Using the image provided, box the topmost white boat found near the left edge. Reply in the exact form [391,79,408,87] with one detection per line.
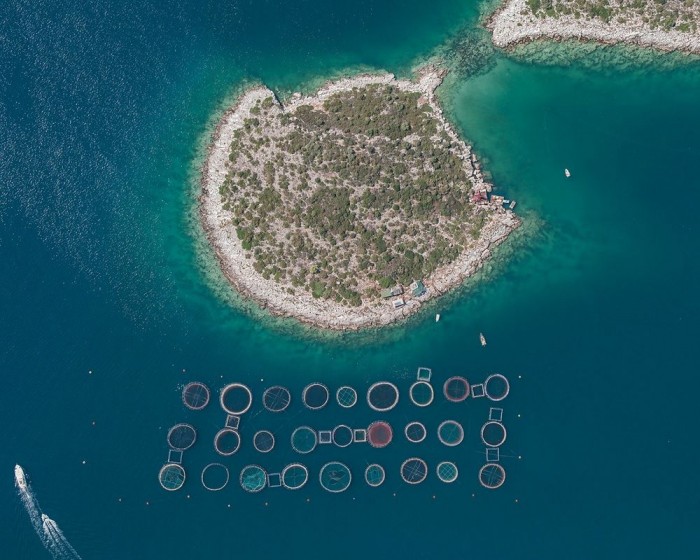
[14,464,27,492]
